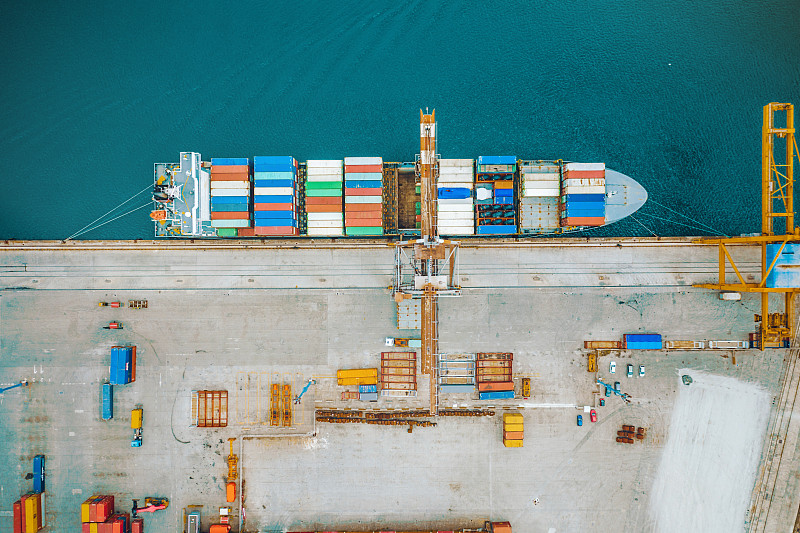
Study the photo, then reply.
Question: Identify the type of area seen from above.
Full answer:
The picture captures a port.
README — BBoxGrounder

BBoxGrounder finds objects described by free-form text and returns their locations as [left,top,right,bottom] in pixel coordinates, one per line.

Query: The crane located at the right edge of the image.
[688,102,800,349]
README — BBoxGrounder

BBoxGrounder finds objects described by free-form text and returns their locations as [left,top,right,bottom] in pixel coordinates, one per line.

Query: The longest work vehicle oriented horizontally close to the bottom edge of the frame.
[125,497,171,517]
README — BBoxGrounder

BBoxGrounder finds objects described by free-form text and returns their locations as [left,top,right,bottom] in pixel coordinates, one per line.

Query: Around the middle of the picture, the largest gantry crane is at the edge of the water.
[390,107,461,413]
